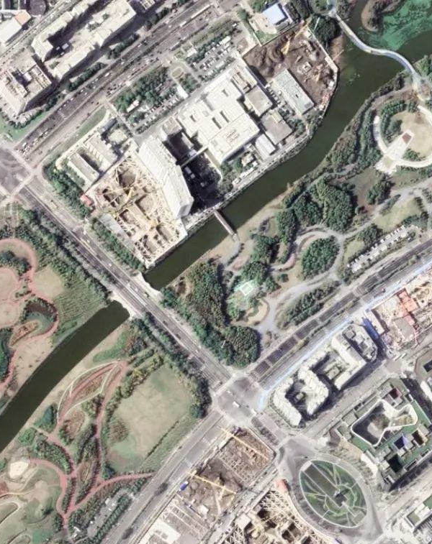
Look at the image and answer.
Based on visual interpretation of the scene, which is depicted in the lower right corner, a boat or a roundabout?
roundabout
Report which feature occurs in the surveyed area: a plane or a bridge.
bridge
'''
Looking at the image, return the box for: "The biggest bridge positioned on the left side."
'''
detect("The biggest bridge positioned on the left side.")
[97,257,174,328]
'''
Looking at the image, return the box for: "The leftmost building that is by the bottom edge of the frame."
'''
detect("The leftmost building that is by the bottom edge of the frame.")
[151,520,179,544]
